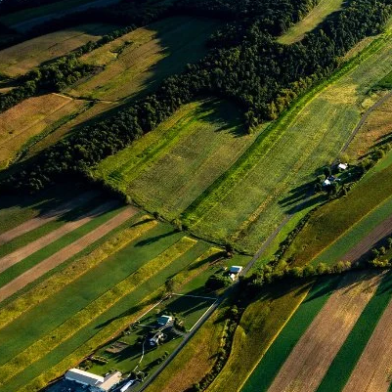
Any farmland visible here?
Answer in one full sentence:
Yes, some farmland is visible.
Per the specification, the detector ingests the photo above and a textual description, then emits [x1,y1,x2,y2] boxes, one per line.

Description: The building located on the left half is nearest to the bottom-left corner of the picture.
[63,369,107,391]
